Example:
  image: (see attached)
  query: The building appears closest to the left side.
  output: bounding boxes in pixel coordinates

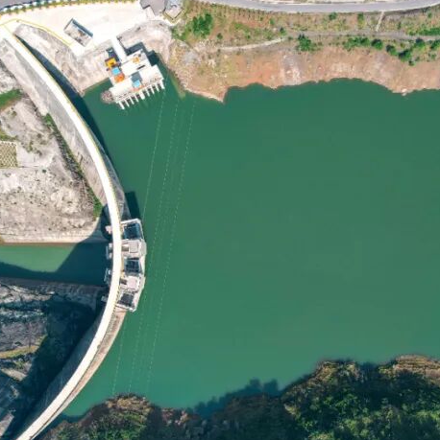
[65,19,94,48]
